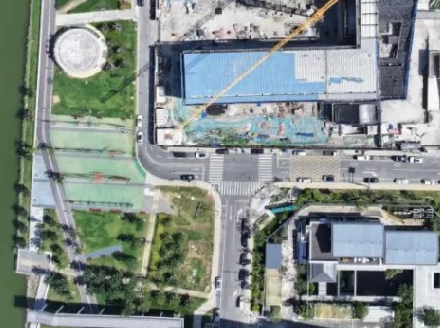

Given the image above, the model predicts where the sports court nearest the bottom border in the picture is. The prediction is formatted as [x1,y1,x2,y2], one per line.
[65,186,145,211]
